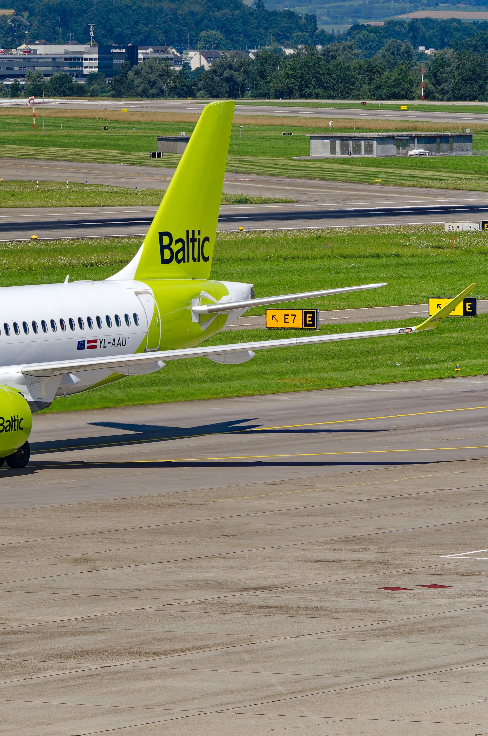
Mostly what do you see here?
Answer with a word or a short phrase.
paved ground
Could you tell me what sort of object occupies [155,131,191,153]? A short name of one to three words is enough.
building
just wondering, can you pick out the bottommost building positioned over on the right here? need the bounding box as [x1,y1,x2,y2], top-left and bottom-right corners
[301,127,476,157]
